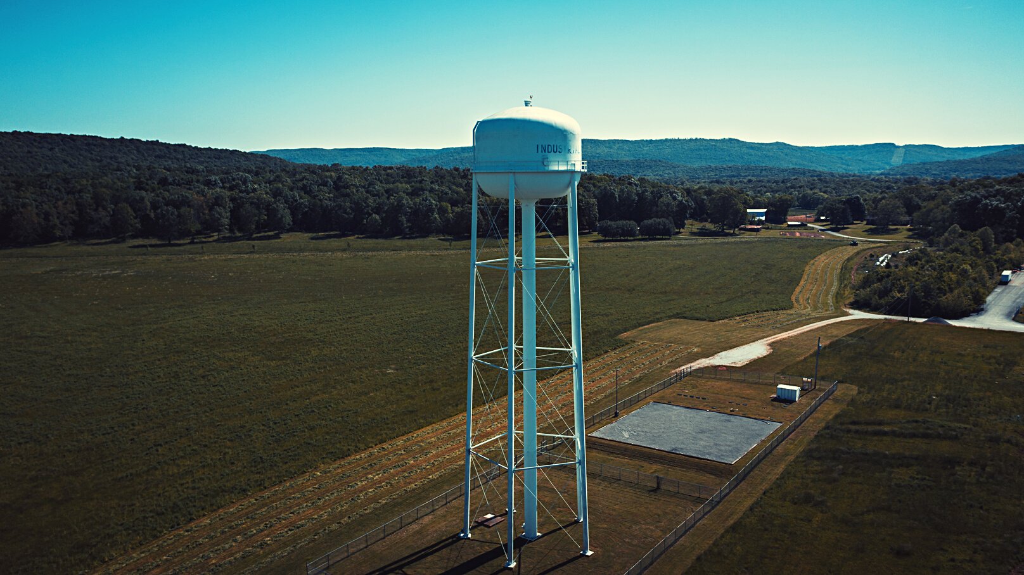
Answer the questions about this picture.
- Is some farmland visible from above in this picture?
Yes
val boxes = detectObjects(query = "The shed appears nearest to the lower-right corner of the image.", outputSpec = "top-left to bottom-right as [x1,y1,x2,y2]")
[776,383,803,402]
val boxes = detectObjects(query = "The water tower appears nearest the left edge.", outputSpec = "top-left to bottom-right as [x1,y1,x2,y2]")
[462,93,590,571]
